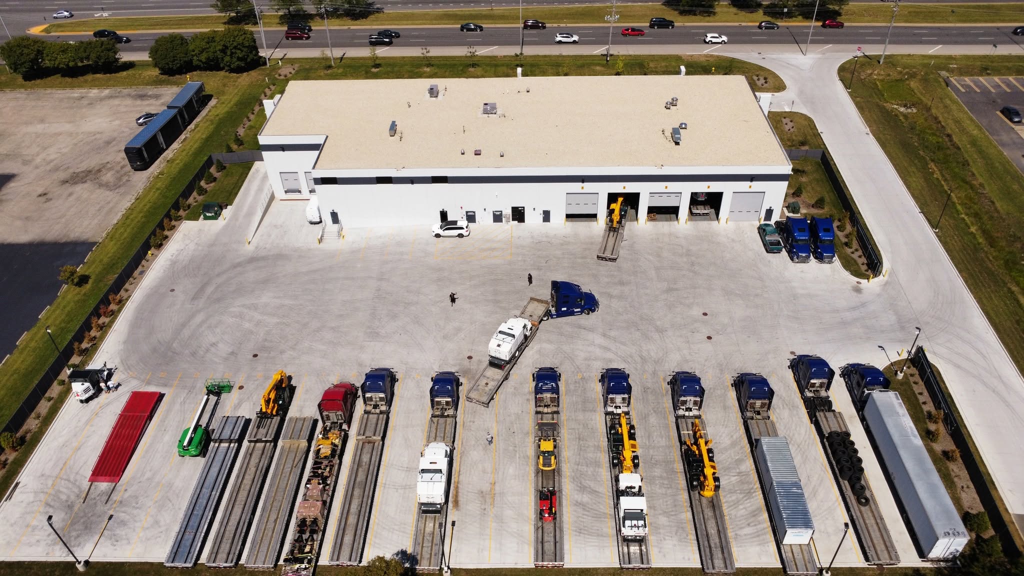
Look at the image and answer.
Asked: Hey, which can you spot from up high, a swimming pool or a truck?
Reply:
truck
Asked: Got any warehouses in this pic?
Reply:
Yes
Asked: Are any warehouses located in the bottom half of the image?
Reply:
No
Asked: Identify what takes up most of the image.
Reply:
paved ground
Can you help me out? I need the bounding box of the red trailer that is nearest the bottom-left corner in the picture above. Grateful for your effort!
[87,390,162,506]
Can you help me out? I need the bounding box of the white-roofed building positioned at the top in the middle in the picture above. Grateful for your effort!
[259,75,792,225]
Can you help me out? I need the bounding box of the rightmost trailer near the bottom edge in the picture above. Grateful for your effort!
[865,391,971,564]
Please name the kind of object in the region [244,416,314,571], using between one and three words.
trailer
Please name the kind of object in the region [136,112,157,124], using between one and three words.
vehicle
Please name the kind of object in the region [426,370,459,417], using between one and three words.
truck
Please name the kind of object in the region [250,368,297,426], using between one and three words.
work vehicle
